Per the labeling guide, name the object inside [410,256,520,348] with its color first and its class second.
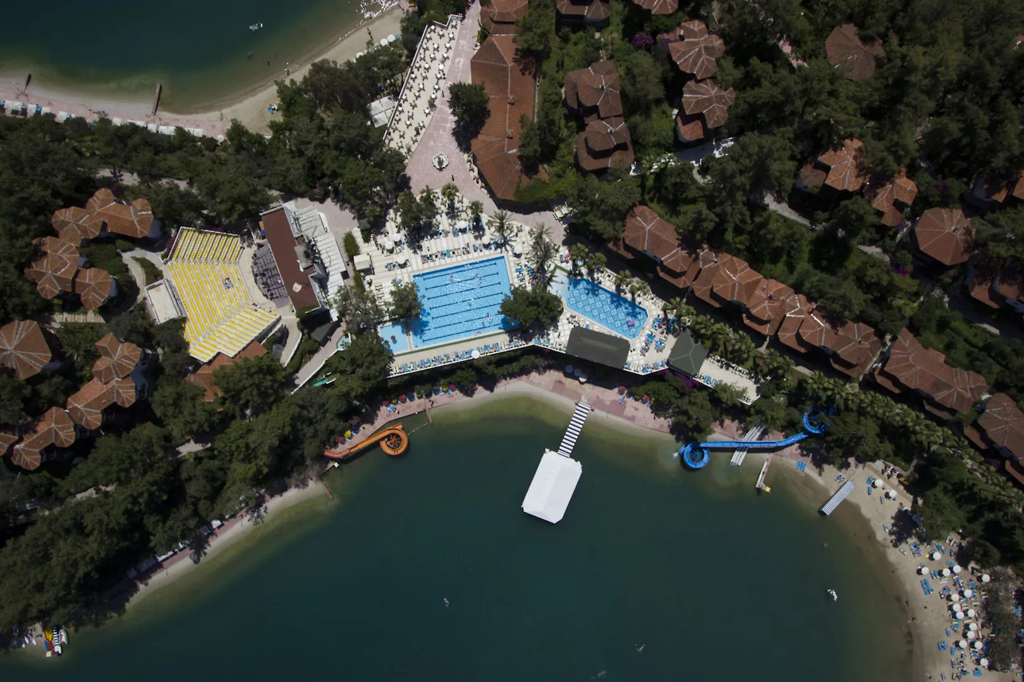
blue swimming pool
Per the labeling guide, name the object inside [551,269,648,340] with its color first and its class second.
blue swimming pool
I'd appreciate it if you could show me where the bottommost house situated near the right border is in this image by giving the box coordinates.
[953,393,1024,481]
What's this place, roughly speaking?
residential area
